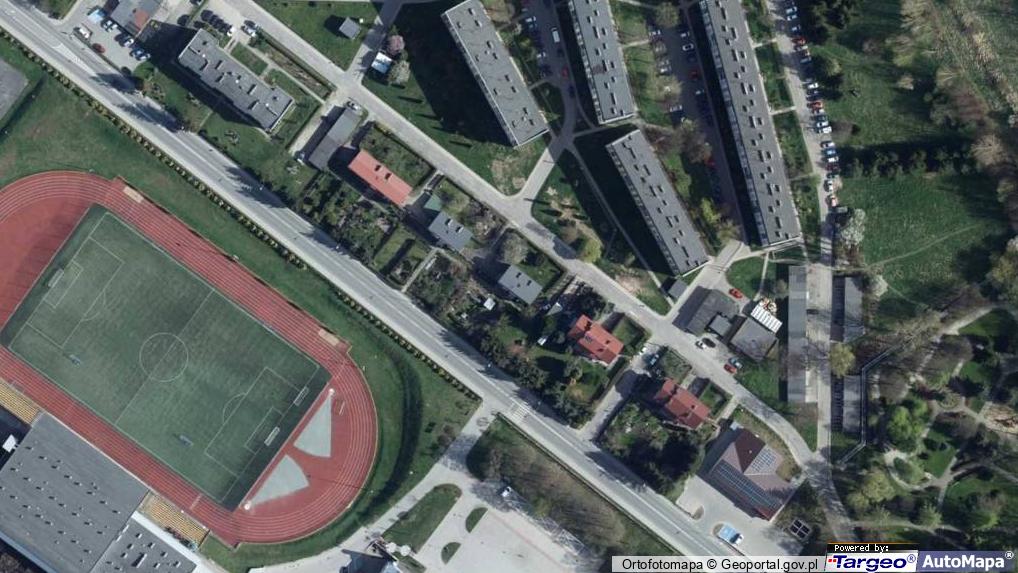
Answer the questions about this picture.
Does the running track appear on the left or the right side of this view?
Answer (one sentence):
The running track appears in the left half of the scene.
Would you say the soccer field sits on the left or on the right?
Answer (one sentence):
The soccer field appears in the left half of the scene.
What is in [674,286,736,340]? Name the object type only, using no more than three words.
building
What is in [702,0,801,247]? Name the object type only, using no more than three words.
building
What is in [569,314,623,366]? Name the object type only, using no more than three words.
house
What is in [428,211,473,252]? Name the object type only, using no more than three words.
house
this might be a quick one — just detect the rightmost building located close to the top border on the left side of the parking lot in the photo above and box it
[569,0,636,124]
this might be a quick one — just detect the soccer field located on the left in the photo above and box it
[0,201,333,513]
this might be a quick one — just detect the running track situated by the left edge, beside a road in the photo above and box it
[0,169,379,552]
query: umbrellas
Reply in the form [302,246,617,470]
[400,545,410,555]
[386,541,396,552]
